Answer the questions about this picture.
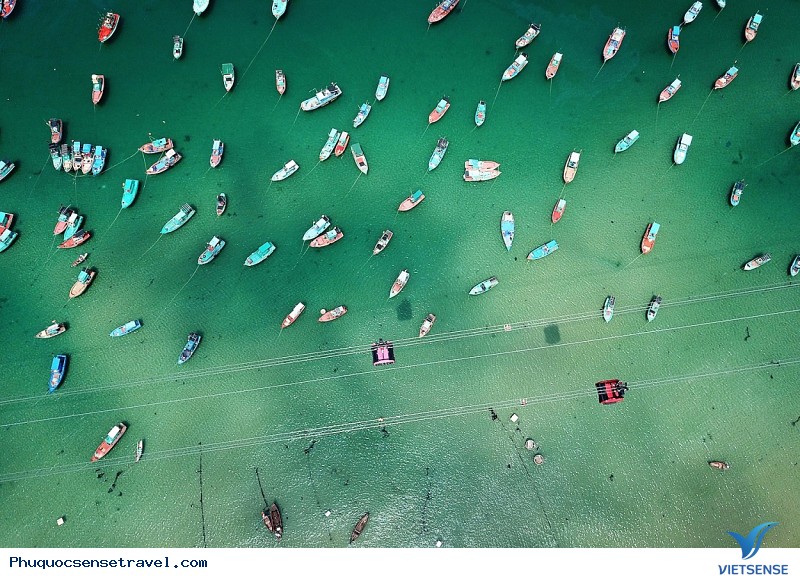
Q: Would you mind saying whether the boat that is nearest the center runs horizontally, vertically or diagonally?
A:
diagonally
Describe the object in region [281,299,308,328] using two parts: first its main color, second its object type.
white boat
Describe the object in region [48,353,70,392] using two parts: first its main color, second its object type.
blue boat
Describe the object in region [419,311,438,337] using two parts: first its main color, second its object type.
white boat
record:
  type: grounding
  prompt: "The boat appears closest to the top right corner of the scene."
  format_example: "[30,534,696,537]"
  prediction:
[745,5,767,43]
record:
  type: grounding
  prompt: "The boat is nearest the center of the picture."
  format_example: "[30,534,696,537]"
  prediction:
[389,268,413,298]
